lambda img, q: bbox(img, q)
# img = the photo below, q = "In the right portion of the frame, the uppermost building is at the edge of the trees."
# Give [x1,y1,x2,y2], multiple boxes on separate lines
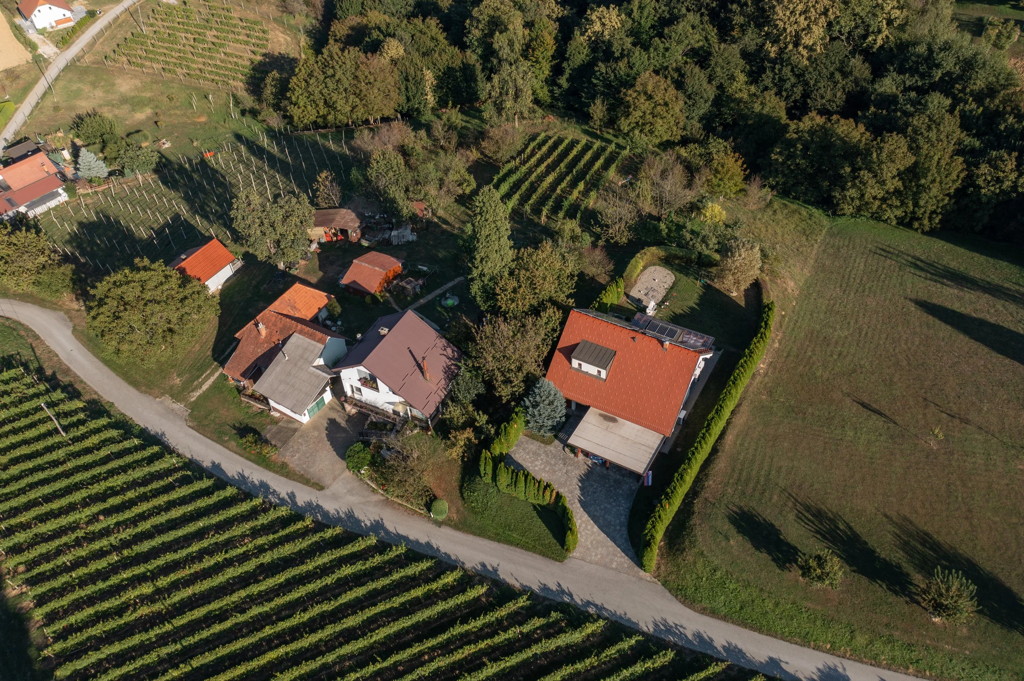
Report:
[545,309,714,447]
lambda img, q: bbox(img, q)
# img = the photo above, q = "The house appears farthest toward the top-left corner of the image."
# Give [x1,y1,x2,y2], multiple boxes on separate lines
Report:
[25,0,75,28]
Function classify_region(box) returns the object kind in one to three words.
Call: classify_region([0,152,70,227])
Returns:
house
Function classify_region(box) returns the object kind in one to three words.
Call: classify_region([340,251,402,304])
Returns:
shed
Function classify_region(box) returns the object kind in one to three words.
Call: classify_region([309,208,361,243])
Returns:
shed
